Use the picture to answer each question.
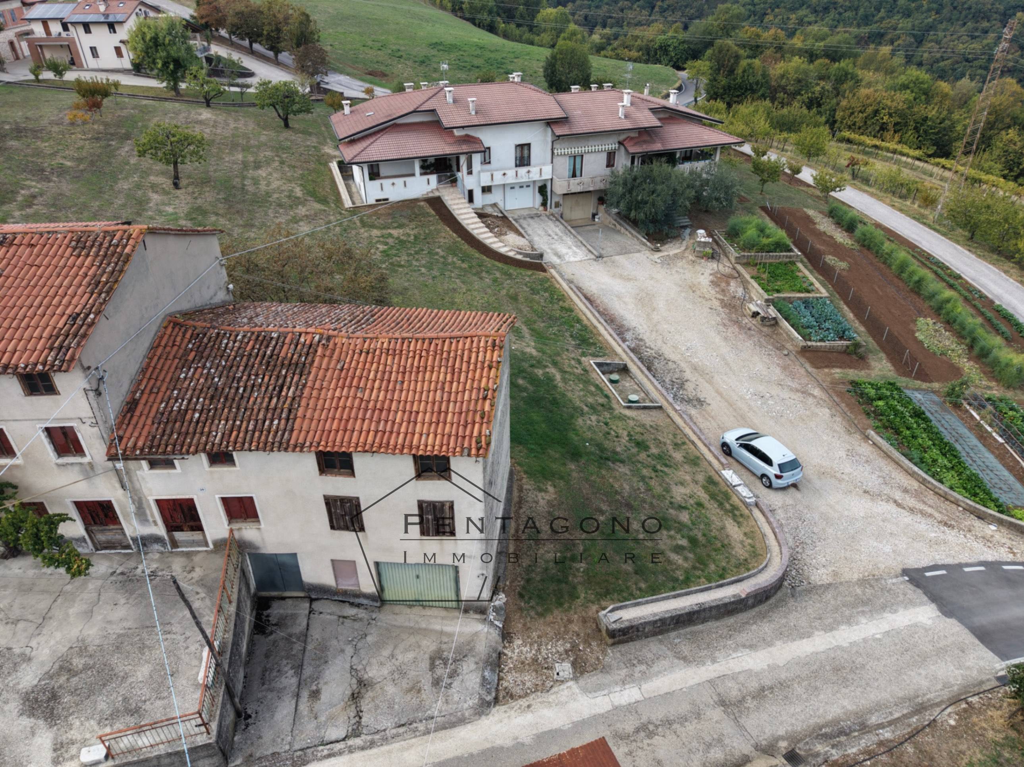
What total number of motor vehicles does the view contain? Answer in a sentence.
Altogether the scene contains 1 motor vehicle.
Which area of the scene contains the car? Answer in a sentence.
The car sits in the right section of the image.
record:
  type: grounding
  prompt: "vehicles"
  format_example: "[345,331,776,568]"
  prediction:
[722,425,806,491]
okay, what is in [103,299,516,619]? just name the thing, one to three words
house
